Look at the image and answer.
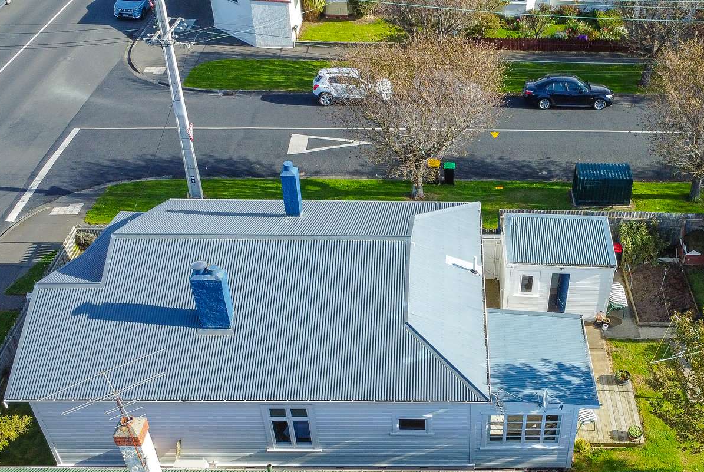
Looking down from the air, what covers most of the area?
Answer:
buildings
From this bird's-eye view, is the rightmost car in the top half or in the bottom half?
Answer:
top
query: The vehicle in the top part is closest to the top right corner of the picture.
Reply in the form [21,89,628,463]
[524,72,618,108]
